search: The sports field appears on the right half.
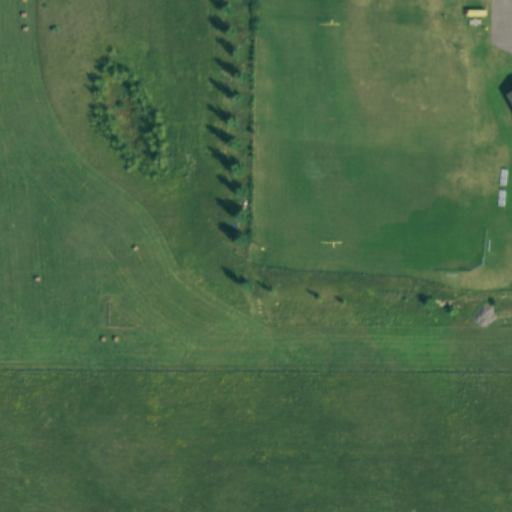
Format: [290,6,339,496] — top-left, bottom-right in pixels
[251,0,487,271]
